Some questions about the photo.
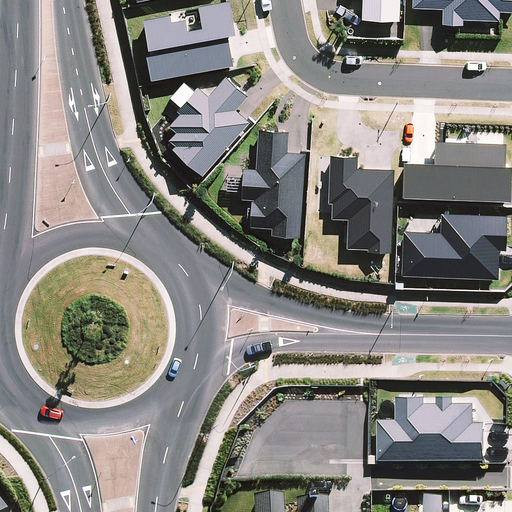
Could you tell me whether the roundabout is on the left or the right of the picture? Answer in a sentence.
You can find the roundabout on the left side of the picture.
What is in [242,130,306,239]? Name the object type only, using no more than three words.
house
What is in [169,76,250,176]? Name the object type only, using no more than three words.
house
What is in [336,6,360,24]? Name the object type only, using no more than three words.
vehicle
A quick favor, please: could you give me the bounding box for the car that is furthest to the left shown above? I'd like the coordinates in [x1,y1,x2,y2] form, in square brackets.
[40,407,62,420]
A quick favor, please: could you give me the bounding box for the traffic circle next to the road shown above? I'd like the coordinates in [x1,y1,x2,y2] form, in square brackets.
[0,214,210,444]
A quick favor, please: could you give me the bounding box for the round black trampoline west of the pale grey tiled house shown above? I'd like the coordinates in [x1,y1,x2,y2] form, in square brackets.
[379,402,395,418]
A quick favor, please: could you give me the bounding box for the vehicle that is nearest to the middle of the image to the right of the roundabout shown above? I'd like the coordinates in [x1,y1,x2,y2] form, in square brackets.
[246,344,270,356]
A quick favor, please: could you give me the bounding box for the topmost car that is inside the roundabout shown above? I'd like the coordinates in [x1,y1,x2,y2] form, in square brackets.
[168,358,180,378]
